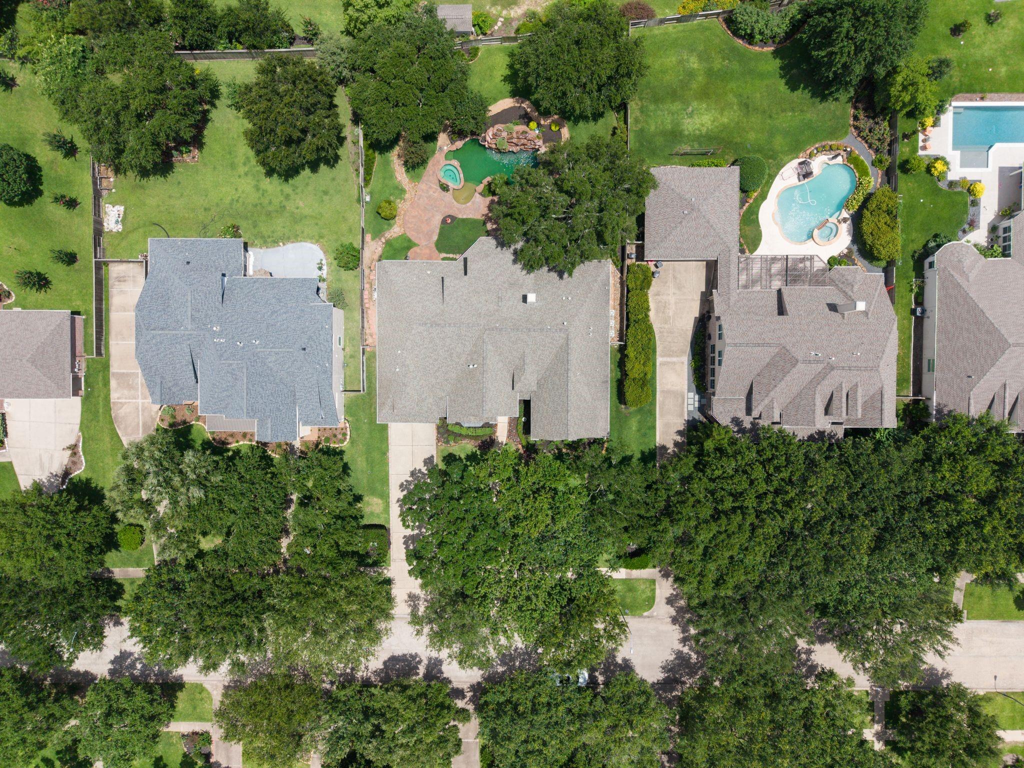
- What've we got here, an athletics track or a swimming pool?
swimming pool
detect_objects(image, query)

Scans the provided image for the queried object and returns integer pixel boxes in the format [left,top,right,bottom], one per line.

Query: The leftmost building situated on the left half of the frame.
[0,310,85,399]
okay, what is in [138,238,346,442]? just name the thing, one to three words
house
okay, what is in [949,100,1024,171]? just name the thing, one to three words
swimming pool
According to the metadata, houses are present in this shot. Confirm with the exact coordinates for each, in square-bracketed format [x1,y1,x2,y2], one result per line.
[376,236,611,441]
[0,310,85,399]
[644,165,898,443]
[138,238,346,442]
[923,208,1024,435]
